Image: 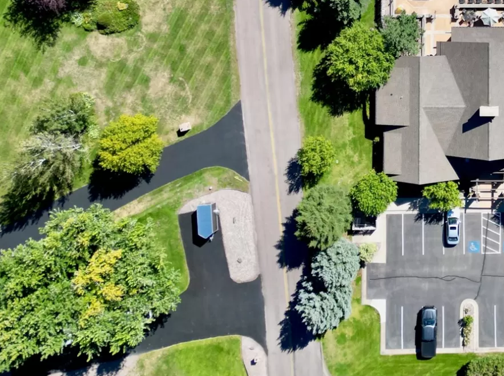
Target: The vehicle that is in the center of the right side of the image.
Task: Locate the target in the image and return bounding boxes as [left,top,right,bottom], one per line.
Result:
[445,207,462,244]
